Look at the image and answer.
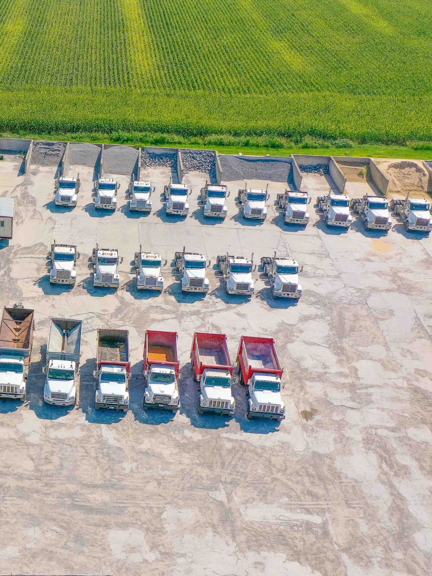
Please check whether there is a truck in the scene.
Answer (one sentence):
Yes, a truck can be made out from above.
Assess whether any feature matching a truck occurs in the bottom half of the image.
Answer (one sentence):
Yes, I can see a truck in the bottom half of the image.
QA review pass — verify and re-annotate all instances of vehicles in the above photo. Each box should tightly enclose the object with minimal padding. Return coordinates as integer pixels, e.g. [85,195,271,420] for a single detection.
[177,246,212,293]
[94,172,120,209]
[274,186,312,223]
[141,328,184,411]
[389,193,432,232]
[261,252,305,298]
[351,190,393,230]
[197,179,229,216]
[55,169,80,205]
[313,188,354,227]
[235,333,288,419]
[134,244,168,290]
[95,327,134,410]
[162,178,192,214]
[235,181,269,218]
[190,330,239,414]
[127,175,155,211]
[0,304,35,399]
[91,243,123,287]
[217,248,257,295]
[49,239,79,283]
[42,318,81,405]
